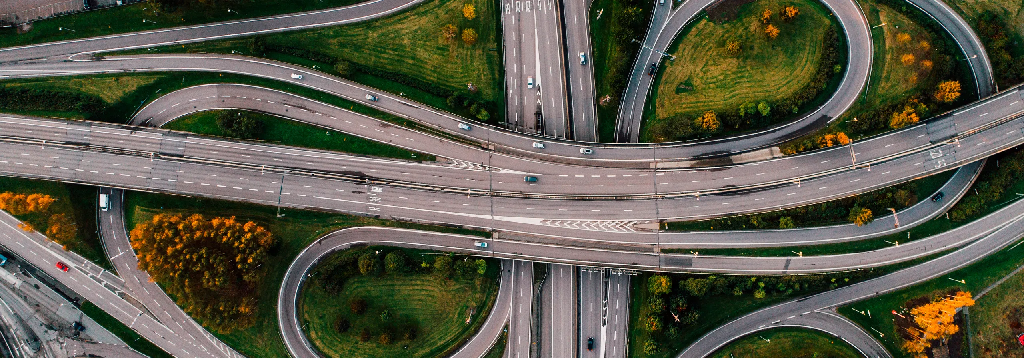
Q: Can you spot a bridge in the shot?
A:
Yes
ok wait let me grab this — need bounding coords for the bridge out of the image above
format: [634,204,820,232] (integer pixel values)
[432,107,660,272]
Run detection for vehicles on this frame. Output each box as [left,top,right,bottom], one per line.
[458,123,471,130]
[365,94,378,102]
[0,254,9,264]
[580,148,593,154]
[931,192,943,202]
[524,176,538,182]
[82,0,90,10]
[99,194,109,210]
[527,76,533,88]
[532,142,545,149]
[55,262,69,272]
[588,338,593,351]
[648,62,656,76]
[473,241,488,247]
[579,52,585,65]
[291,73,302,79]
[72,322,86,331]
